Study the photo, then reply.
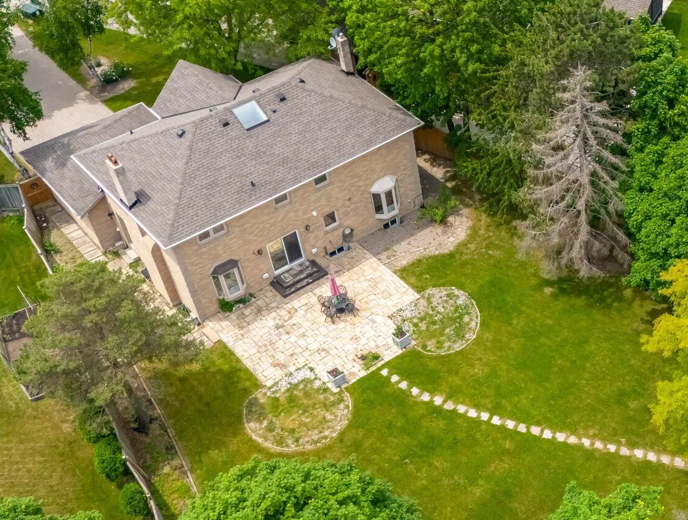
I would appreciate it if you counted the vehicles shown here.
zero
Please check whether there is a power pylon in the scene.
No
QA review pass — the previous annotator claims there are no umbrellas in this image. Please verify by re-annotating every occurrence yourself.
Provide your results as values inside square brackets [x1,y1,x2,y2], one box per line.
[329,278,342,304]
